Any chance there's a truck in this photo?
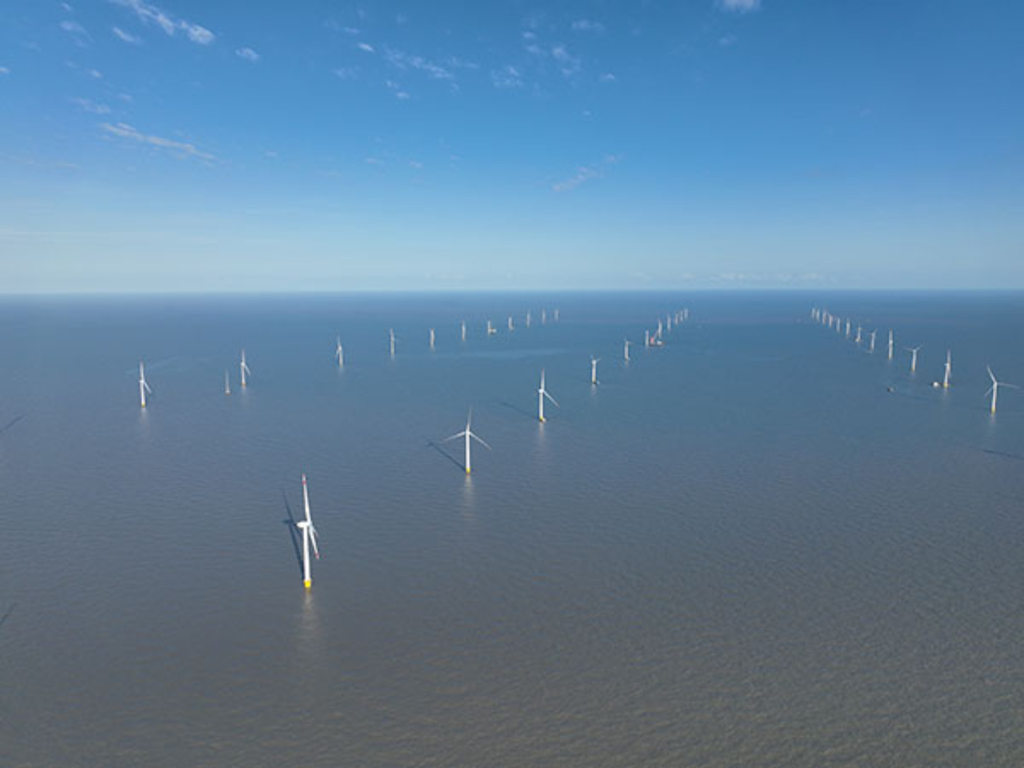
No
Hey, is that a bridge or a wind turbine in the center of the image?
wind turbine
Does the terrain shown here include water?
Yes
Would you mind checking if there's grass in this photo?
No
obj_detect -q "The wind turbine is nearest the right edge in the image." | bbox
[986,369,1021,412]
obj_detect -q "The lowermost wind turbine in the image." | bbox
[294,473,318,587]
